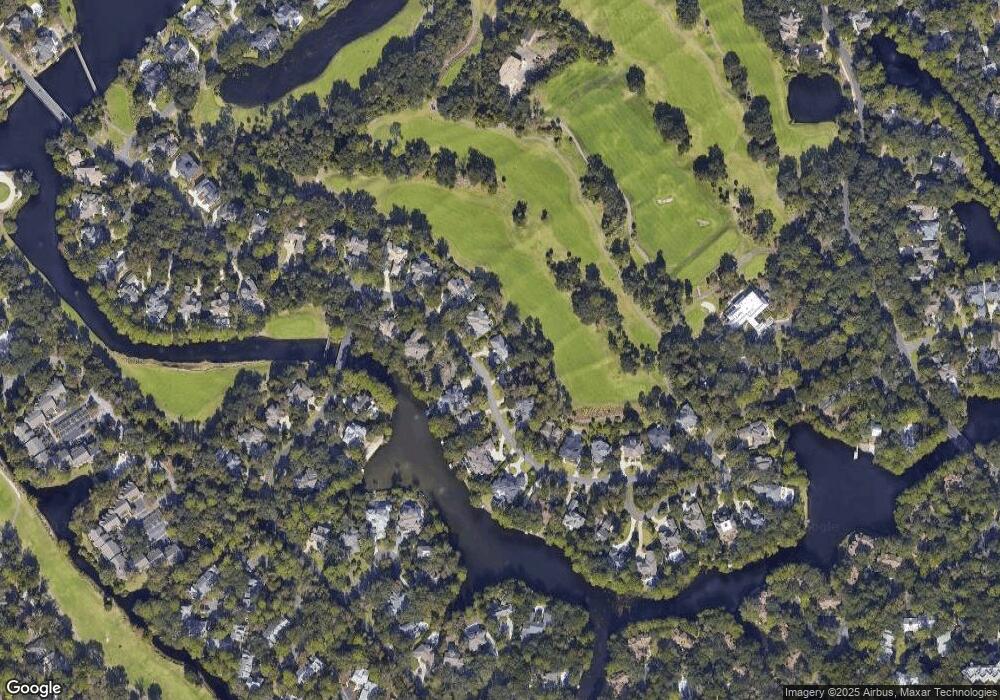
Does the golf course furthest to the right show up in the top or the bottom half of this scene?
top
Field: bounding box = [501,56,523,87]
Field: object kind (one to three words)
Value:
shed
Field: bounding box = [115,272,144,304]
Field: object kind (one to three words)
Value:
house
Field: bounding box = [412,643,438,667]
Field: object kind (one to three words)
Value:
house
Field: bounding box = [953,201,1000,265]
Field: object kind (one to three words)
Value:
pond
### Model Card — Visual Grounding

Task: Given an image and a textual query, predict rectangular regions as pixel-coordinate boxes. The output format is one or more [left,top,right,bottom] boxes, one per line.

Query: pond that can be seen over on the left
[223,0,409,105]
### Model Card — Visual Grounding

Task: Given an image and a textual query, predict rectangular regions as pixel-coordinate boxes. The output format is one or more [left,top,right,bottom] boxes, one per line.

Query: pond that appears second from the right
[788,73,844,123]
